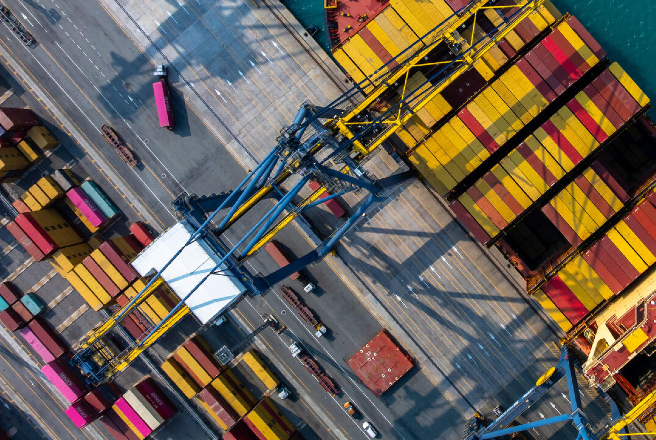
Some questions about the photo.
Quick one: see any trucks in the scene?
Yes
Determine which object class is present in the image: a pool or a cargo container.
cargo container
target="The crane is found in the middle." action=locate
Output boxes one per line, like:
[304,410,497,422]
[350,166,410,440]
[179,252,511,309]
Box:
[72,0,551,389]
